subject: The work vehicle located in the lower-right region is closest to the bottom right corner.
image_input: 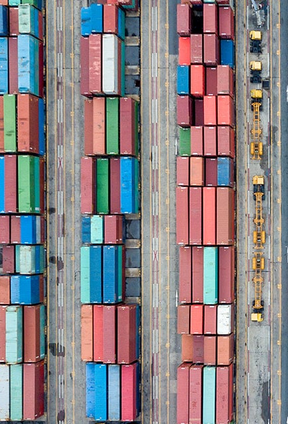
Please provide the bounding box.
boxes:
[251,303,264,323]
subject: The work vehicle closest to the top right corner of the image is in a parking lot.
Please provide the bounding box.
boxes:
[249,28,263,52]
